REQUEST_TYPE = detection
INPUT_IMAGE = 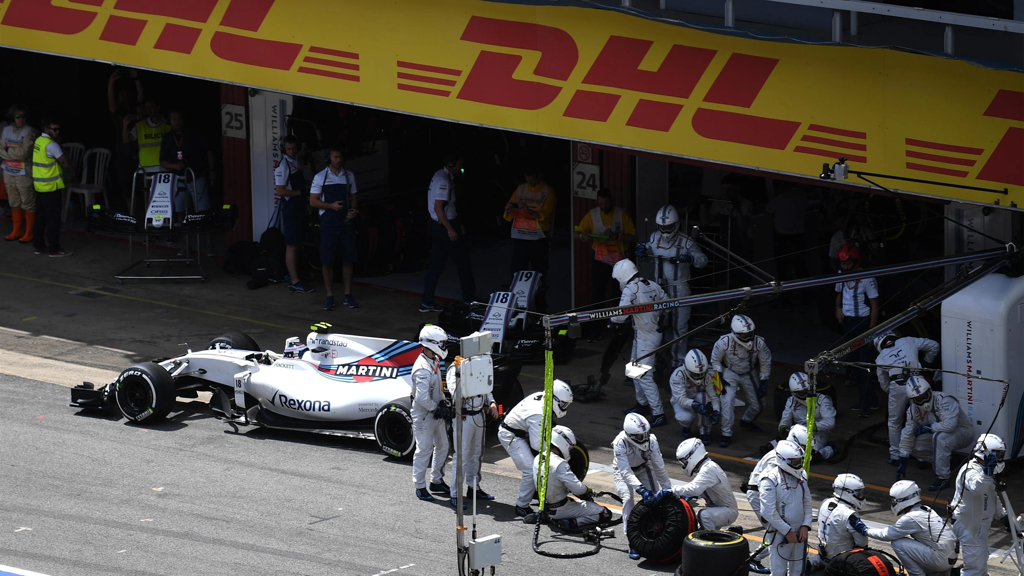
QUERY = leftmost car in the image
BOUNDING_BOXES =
[64,323,523,456]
